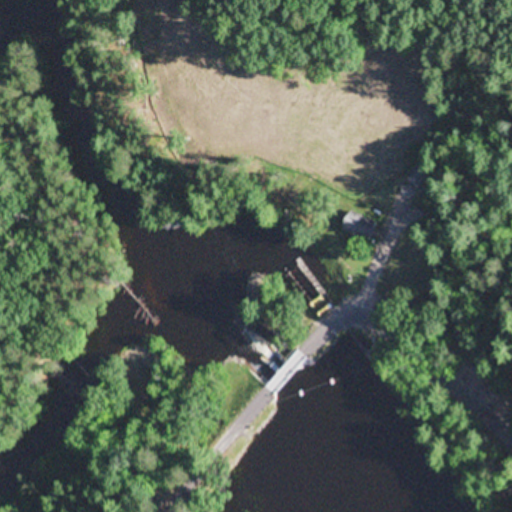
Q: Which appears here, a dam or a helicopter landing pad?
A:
dam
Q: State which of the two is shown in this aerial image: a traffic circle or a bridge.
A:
bridge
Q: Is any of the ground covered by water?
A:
Yes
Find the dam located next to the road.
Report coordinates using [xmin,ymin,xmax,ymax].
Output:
[243,328,306,400]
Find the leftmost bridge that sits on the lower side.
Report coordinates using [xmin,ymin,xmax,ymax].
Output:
[266,350,306,396]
